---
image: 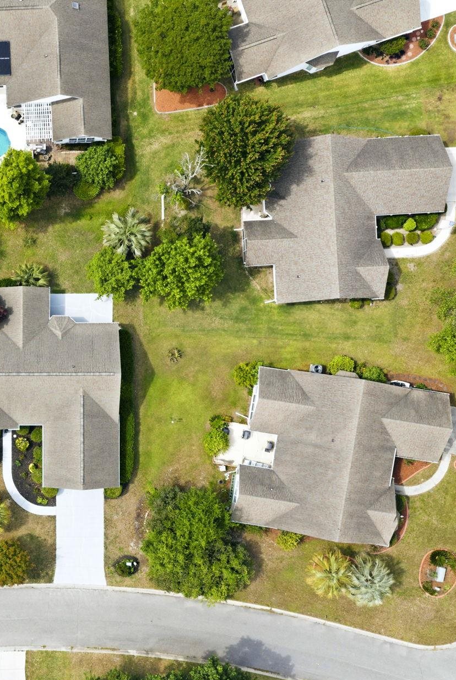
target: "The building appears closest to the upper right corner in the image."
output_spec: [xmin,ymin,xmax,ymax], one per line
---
[229,0,426,86]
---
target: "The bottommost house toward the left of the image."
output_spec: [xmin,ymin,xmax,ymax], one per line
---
[0,286,121,490]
